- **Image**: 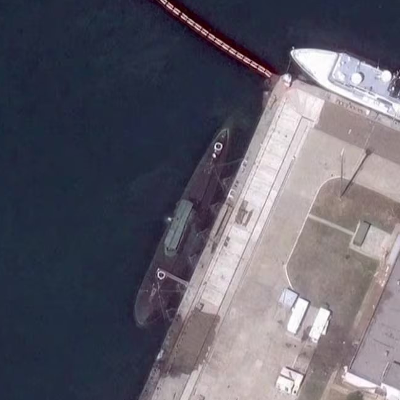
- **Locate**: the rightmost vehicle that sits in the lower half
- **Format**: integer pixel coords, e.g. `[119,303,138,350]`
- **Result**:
[308,310,328,346]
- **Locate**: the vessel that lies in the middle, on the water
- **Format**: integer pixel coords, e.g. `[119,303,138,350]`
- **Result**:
[134,130,227,328]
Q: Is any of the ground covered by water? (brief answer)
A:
Yes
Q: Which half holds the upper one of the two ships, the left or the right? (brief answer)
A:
right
